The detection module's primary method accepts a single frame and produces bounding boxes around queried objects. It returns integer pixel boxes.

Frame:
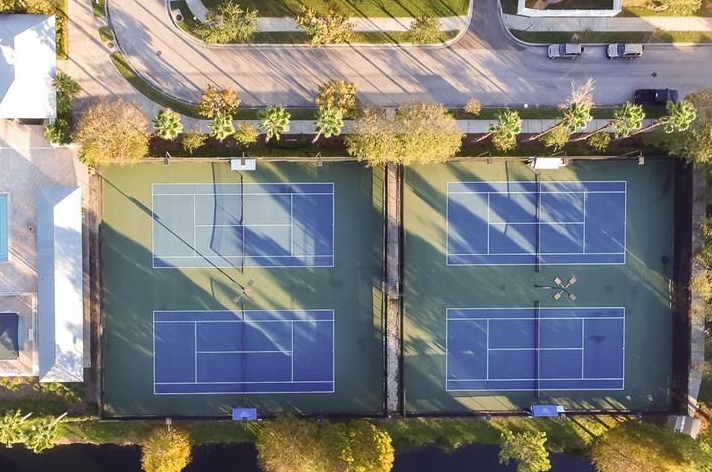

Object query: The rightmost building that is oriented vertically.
[36,186,84,382]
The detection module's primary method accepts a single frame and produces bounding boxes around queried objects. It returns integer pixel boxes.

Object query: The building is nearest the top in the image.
[0,14,57,120]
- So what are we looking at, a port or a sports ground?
sports ground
